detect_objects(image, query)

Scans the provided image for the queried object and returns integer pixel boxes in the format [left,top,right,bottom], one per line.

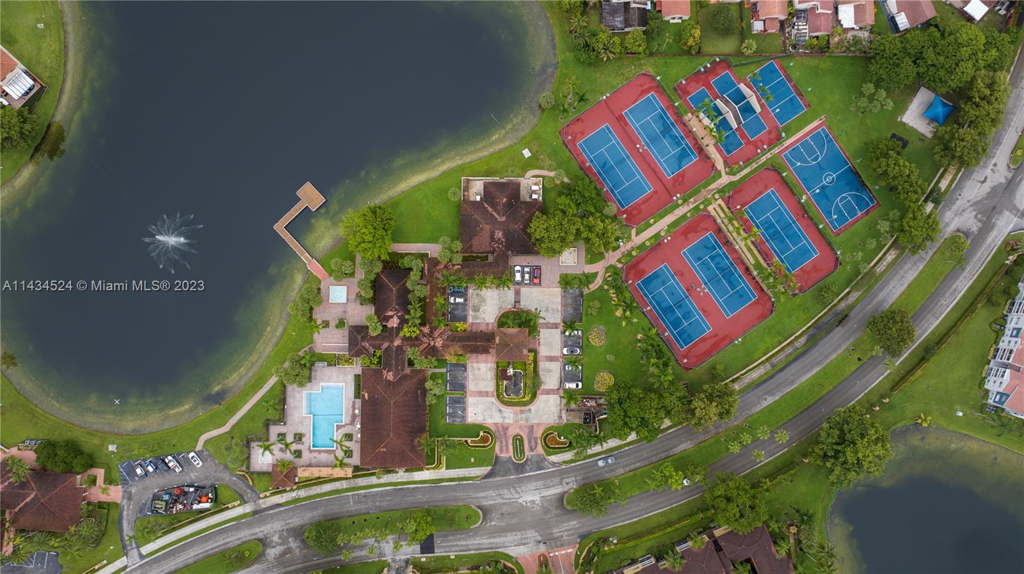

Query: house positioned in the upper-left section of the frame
[0,44,40,108]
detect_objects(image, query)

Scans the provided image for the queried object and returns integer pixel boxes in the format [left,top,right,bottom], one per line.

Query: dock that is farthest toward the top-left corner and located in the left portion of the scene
[273,182,330,280]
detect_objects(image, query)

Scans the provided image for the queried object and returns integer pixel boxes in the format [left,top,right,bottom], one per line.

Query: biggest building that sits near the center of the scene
[348,181,543,468]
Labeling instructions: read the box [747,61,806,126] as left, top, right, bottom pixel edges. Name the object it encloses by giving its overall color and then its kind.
blue sports court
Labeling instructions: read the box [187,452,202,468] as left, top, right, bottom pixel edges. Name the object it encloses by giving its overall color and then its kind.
white car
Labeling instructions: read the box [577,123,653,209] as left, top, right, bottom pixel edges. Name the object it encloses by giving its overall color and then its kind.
blue tennis court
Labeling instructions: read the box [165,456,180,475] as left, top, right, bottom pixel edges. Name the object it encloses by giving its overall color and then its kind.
white vehicle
